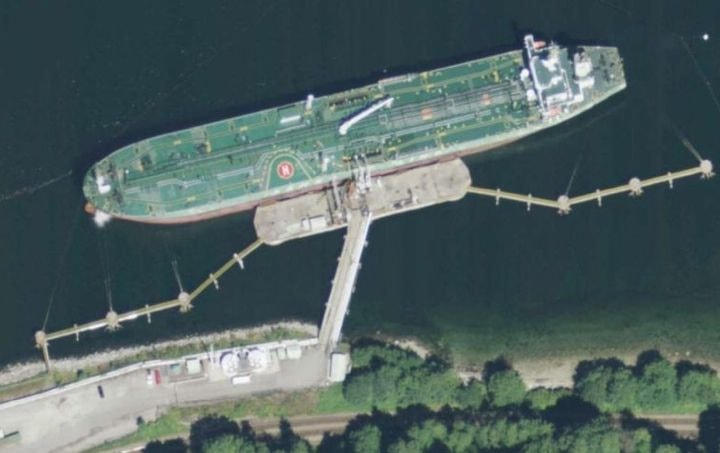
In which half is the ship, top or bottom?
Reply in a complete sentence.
Seen from above, the ship lies in the top half of the view.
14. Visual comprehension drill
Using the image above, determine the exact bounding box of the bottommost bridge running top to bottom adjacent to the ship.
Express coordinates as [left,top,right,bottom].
[319,210,371,343]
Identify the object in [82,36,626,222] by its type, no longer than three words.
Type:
ship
